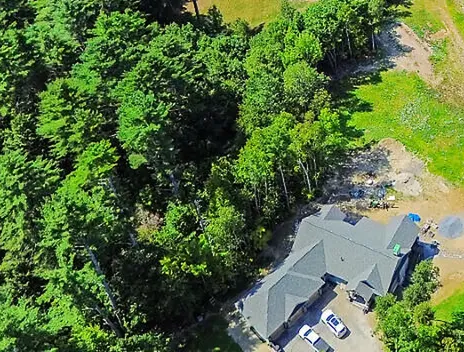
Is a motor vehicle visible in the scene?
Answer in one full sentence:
Yes, a motor vehicle appears in the view.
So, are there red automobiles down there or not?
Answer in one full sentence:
No, no red automobile can be seen from above.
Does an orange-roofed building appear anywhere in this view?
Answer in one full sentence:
No, there is no orange-roofed building in the image.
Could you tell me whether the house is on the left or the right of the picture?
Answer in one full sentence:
The house sits on the right side.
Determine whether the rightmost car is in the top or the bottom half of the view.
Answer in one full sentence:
Seen from above, the rightmost car lies in the bottom half of the view.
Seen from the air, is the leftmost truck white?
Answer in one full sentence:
Yes, the leftmost truck appears white.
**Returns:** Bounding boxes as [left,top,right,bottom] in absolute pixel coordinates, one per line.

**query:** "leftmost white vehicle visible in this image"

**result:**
[298,320,332,352]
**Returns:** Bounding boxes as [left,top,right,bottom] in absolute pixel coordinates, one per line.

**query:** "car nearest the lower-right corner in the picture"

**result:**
[321,307,349,337]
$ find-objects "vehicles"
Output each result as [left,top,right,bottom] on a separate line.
[298,320,332,352]
[321,307,349,337]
